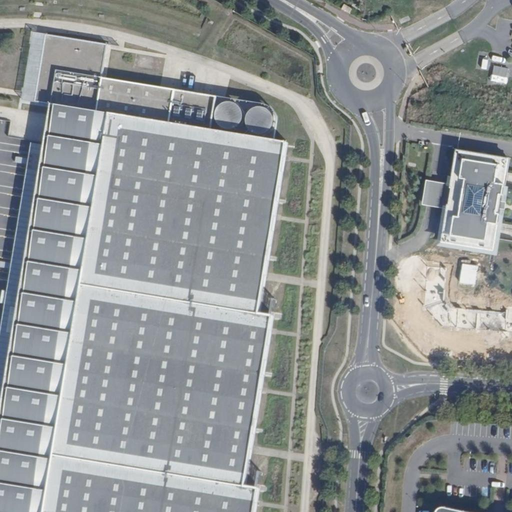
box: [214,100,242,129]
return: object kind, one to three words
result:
storage tank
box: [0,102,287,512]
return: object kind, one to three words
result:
warehouse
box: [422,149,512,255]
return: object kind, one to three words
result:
building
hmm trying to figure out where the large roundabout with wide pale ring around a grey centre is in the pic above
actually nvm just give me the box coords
[350,55,385,90]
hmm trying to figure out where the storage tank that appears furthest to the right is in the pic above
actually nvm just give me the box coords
[245,104,273,132]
